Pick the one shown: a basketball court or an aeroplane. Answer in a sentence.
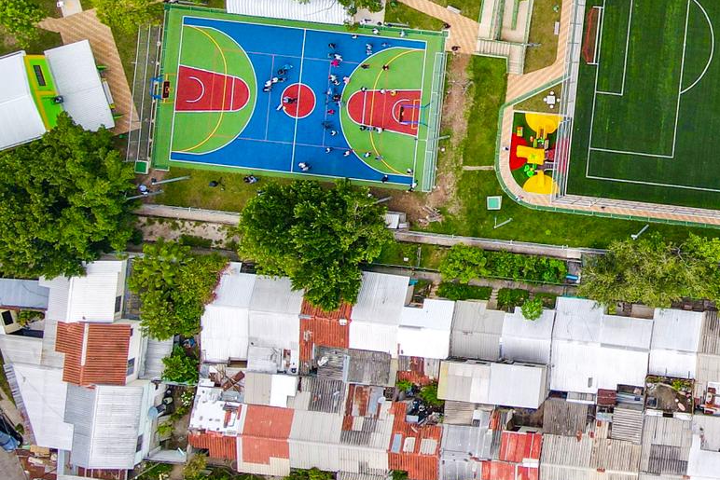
I can see a basketball court in this picture.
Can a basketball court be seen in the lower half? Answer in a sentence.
No, no basketball court is visible in the lower half.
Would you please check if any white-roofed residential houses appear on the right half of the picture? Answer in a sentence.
Yes, a white-roofed residential house can be seen on the right half of the picture.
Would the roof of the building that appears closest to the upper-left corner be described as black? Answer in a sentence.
No, the roof of the building that appears closest to the upper-left corner is actually white.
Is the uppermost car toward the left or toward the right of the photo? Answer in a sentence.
It is on the left.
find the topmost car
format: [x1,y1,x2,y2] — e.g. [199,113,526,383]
[0,417,26,457]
